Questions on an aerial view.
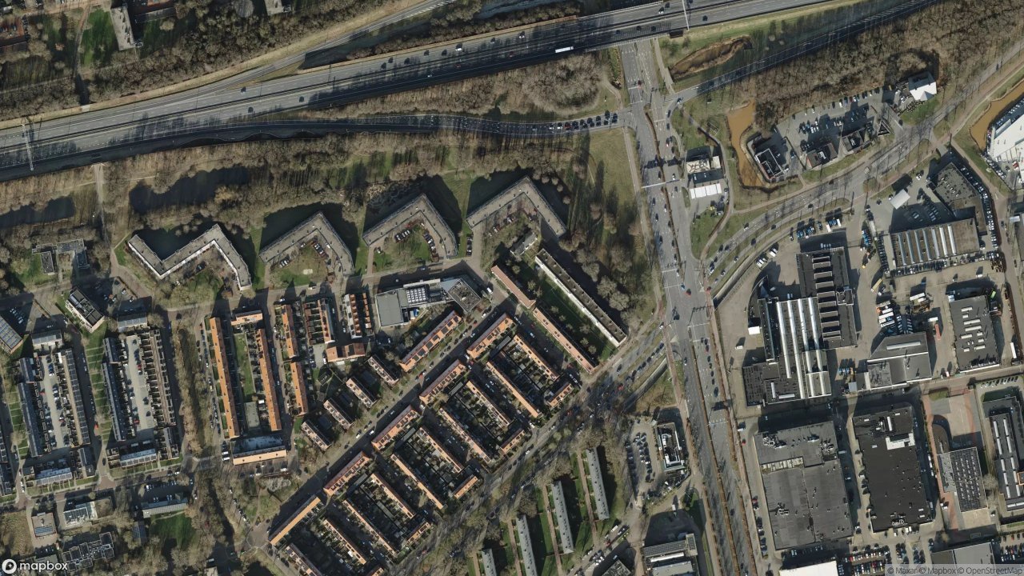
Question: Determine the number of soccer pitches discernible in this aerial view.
0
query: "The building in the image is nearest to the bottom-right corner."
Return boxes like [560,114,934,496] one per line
[953,542,999,576]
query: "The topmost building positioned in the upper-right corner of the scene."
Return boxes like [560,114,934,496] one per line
[906,70,940,103]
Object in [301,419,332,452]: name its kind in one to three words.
building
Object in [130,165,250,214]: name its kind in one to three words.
pond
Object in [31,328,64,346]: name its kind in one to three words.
house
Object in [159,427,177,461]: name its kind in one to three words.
house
